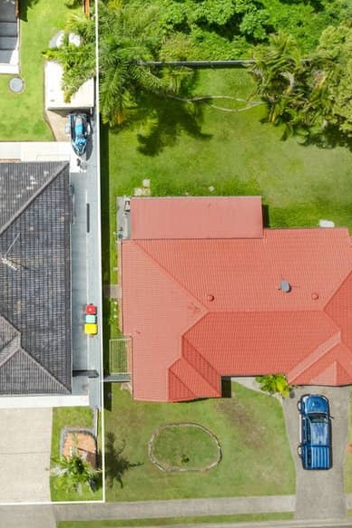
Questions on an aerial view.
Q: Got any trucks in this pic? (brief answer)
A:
Yes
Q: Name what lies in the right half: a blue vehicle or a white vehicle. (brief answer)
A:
blue vehicle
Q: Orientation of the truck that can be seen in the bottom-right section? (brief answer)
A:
vertically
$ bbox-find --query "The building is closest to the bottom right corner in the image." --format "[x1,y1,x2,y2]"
[121,195,352,403]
